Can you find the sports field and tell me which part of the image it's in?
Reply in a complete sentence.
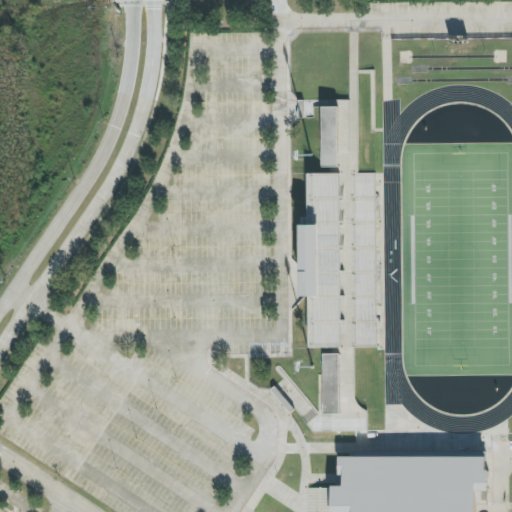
The sports field sits in the right section of the image.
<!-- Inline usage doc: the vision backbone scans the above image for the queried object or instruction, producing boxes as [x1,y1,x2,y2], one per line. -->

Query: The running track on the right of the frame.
[384,84,512,434]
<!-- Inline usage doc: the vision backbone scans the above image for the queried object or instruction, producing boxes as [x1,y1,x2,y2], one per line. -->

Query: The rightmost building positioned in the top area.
[320,106,340,167]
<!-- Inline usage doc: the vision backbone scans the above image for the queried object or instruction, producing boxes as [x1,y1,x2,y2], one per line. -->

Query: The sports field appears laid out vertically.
[402,142,512,377]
